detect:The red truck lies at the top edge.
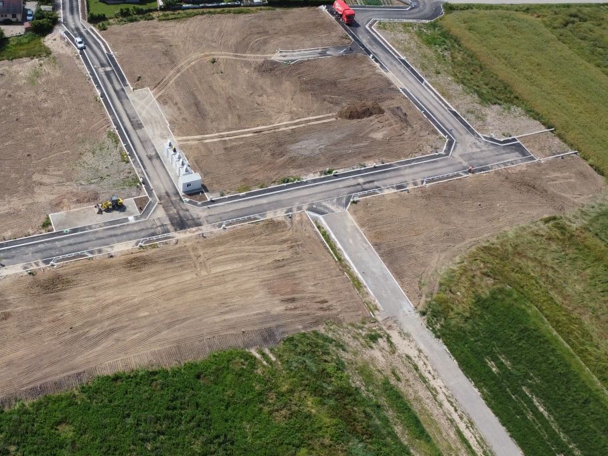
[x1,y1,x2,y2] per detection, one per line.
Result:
[329,0,360,23]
